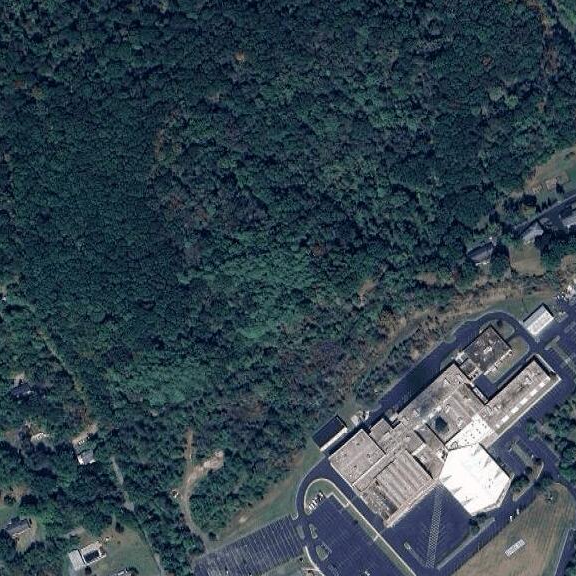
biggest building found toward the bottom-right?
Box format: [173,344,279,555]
[330,326,561,529]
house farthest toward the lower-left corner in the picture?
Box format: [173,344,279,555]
[6,519,32,543]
